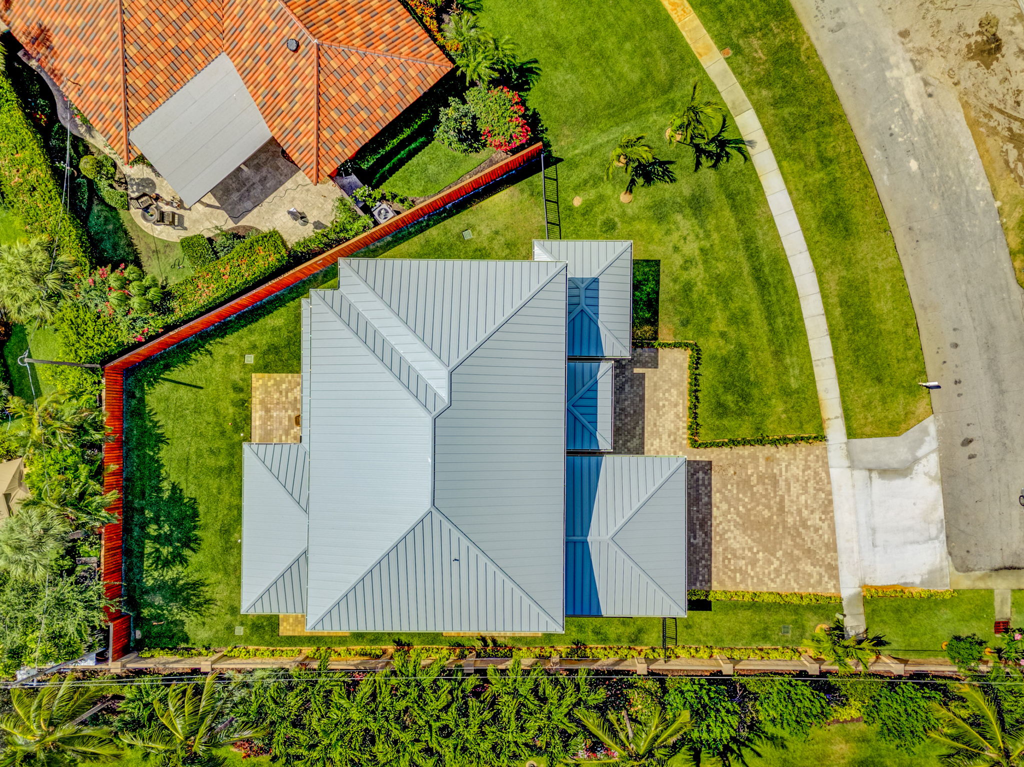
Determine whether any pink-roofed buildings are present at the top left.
No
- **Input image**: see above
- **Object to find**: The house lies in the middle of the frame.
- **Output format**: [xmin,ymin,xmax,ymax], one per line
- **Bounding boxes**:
[240,240,686,635]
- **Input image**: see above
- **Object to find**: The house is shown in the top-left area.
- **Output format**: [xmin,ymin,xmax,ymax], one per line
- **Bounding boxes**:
[0,0,453,186]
